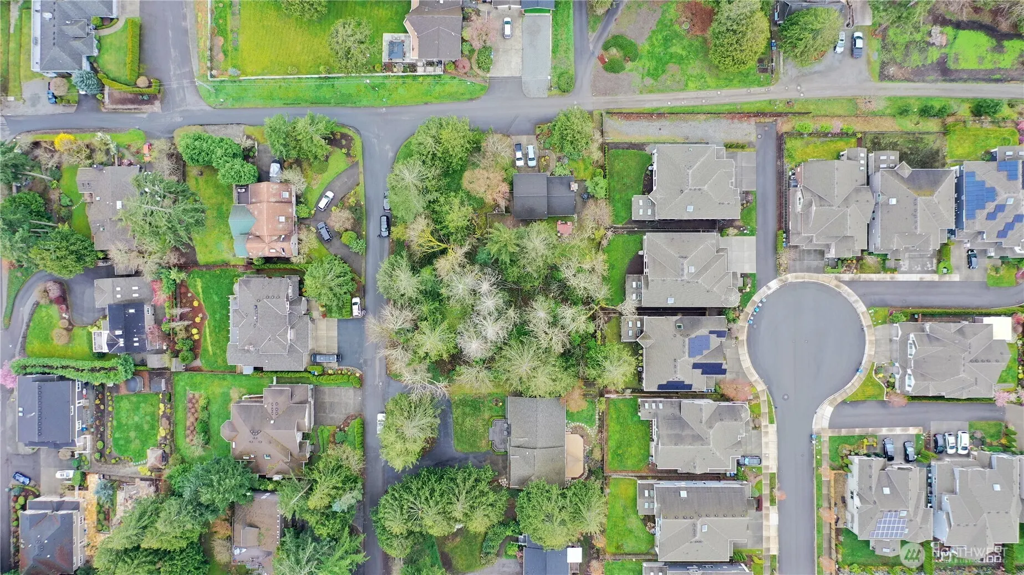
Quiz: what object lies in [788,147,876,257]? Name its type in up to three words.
house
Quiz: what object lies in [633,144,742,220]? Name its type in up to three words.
house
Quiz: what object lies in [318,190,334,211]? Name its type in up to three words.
car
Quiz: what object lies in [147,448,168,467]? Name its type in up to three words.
gazebo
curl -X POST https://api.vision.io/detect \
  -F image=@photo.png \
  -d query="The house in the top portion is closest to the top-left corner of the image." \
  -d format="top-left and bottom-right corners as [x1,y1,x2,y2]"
[31,0,125,76]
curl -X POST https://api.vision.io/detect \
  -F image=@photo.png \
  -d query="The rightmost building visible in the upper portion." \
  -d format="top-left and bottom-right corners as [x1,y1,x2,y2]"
[949,146,1024,258]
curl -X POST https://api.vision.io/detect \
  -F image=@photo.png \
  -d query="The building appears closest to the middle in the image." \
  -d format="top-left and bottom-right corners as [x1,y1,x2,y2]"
[513,173,575,220]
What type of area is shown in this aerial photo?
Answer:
residential area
